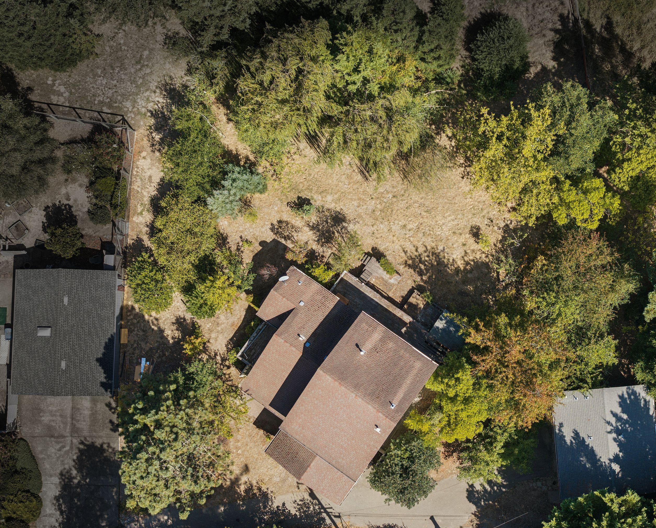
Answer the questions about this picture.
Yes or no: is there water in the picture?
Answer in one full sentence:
No, the scene doesn't show any water.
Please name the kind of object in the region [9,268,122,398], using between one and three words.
building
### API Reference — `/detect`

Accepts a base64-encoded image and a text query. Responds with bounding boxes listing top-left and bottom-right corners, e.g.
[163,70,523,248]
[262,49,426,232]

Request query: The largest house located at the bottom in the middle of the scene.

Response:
[239,265,438,506]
